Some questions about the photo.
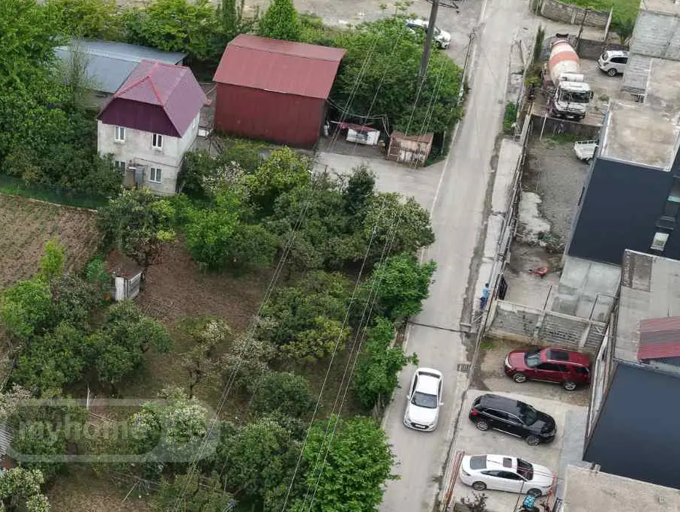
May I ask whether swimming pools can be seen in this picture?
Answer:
No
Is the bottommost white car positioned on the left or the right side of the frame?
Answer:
right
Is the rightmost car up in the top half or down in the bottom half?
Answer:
top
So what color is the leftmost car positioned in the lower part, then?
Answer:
white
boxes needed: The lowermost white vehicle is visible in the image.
[459,452,555,497]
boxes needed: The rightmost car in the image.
[599,47,631,75]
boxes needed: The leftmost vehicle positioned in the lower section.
[405,366,447,429]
